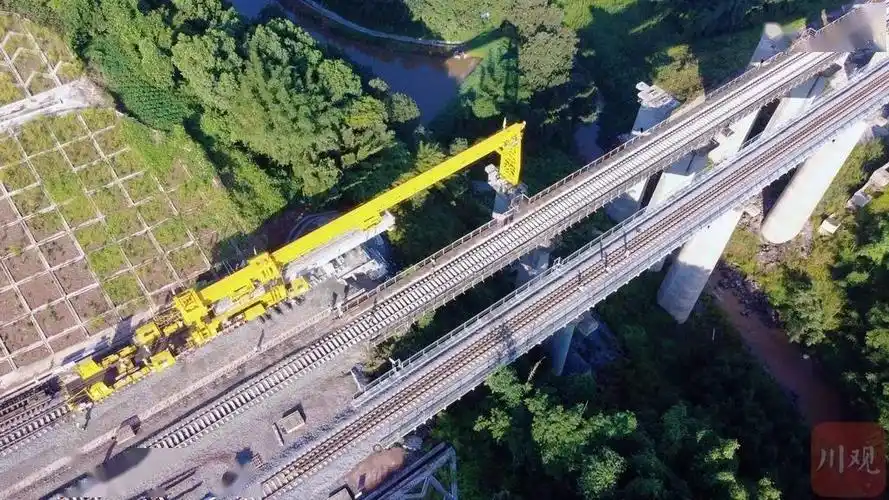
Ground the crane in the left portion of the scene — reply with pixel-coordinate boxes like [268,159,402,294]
[43,114,532,422]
